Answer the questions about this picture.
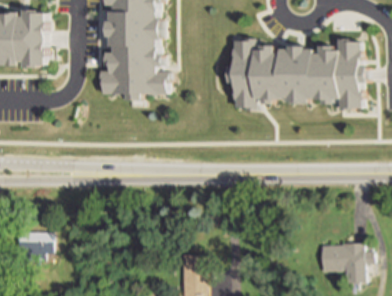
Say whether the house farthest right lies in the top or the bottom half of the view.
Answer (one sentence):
The bottom half of the photo is where the house farthest right is.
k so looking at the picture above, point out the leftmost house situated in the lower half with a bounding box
[18,232,56,264]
